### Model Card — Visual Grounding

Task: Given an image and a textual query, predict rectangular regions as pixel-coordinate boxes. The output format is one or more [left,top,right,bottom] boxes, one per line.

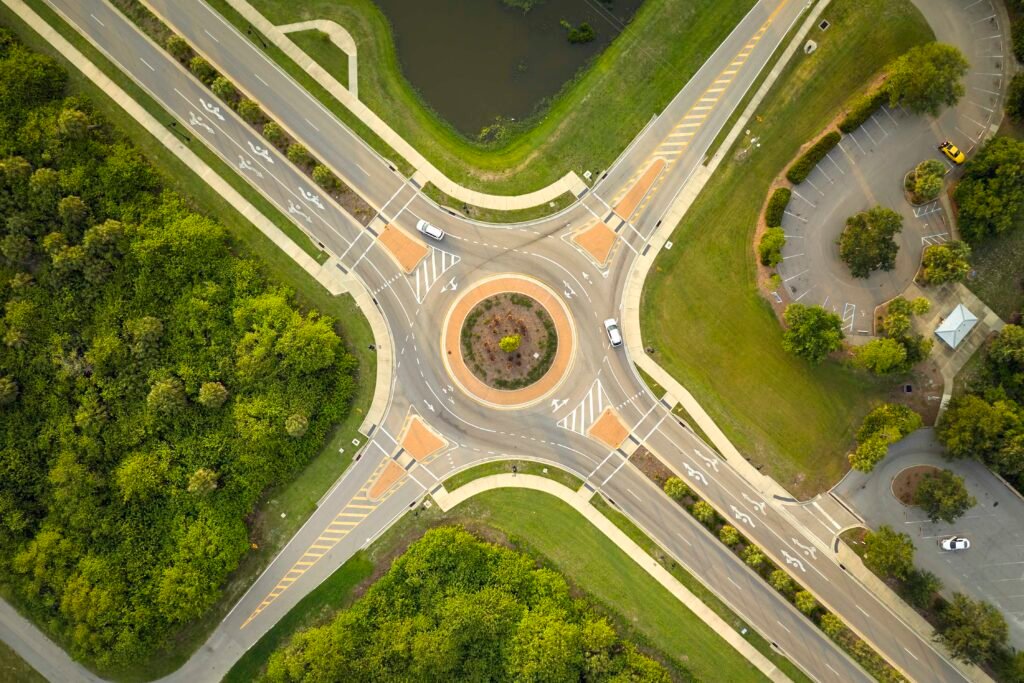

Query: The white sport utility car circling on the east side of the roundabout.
[604,318,622,347]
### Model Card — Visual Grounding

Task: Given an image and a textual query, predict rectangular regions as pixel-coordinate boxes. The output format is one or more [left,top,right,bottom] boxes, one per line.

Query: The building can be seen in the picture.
[928,304,978,348]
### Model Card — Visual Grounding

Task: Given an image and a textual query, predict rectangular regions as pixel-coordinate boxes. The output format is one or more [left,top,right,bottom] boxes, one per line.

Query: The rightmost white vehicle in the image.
[940,533,970,551]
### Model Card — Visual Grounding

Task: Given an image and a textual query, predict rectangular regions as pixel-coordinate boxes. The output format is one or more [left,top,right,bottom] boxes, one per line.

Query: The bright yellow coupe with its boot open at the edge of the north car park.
[937,141,966,165]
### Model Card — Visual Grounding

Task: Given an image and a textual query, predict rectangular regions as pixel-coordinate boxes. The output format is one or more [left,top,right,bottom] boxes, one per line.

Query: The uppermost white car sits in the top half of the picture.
[416,220,445,240]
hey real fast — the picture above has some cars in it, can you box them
[416,220,445,240]
[604,318,622,347]
[940,533,970,551]
[937,141,966,165]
